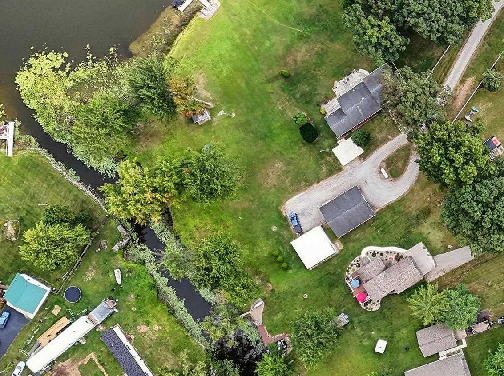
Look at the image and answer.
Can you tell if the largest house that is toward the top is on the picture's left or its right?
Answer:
right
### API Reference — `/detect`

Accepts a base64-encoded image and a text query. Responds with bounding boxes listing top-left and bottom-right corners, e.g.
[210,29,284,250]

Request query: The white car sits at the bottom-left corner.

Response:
[10,362,24,376]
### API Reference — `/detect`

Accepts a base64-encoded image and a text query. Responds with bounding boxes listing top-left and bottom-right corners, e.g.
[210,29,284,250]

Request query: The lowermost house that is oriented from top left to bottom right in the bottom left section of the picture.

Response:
[101,326,153,376]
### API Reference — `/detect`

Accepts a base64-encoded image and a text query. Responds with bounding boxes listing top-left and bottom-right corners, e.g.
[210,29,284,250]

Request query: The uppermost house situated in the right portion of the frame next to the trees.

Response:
[324,63,399,139]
